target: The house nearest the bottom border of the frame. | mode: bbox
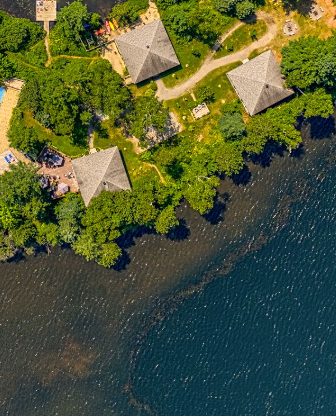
[71,145,130,206]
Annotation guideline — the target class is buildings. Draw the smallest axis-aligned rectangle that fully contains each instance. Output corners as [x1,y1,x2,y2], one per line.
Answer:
[114,19,181,84]
[227,50,291,116]
[71,145,130,206]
